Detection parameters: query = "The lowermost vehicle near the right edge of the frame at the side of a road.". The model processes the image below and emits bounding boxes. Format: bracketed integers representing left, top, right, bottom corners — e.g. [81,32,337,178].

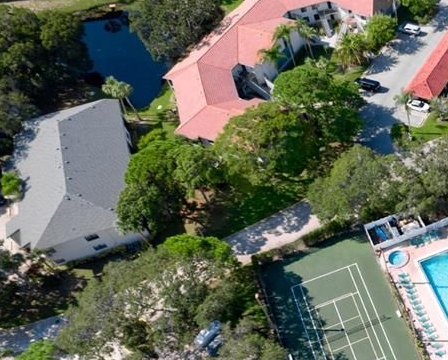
[405,98,429,113]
